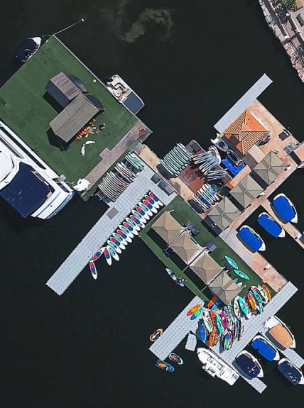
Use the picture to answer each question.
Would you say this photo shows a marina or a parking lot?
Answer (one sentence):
The area seen from above is a marina.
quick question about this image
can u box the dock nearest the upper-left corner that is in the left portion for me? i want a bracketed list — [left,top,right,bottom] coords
[0,34,153,201]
